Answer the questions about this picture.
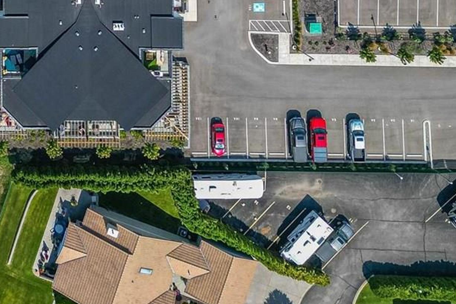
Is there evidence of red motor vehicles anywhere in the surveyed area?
Yes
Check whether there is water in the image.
No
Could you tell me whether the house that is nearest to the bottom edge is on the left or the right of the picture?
left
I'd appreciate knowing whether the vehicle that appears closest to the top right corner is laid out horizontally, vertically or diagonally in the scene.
vertically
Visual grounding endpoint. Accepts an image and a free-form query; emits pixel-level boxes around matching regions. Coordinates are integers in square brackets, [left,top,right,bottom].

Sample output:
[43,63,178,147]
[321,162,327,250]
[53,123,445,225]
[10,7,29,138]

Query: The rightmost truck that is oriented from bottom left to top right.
[314,219,356,263]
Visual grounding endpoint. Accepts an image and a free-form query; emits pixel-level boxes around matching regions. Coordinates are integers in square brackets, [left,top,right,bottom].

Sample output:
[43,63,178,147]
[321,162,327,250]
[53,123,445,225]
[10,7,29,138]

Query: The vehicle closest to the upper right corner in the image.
[348,119,369,162]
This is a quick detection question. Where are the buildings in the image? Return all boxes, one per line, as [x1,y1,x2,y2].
[0,0,189,149]
[52,200,257,304]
